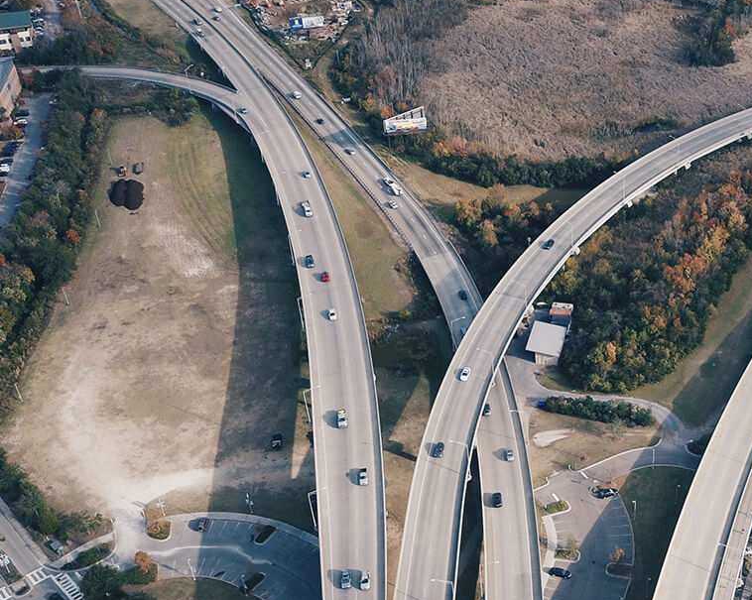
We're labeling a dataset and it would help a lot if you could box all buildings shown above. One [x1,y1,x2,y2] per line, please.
[0,7,40,49]
[527,322,566,369]
[0,64,22,133]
